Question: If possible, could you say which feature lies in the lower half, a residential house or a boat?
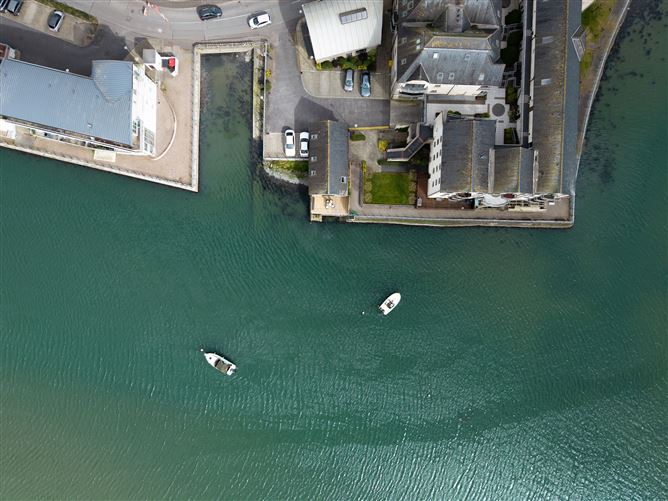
boat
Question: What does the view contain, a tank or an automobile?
automobile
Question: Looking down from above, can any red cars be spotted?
No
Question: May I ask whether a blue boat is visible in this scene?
No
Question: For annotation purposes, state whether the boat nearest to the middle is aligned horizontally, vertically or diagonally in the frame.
diagonally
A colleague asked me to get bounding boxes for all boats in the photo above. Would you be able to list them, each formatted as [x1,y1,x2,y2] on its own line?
[204,354,235,375]
[379,294,401,315]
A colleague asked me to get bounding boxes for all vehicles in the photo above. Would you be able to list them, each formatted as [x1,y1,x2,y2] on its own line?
[4,0,24,18]
[343,70,354,93]
[359,72,372,98]
[48,7,66,32]
[298,132,309,157]
[284,130,296,157]
[248,13,272,29]
[196,4,221,20]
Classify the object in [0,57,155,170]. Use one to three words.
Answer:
building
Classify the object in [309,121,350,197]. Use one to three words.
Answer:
house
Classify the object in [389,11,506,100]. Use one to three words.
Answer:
building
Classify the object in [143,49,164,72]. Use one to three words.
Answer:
shed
